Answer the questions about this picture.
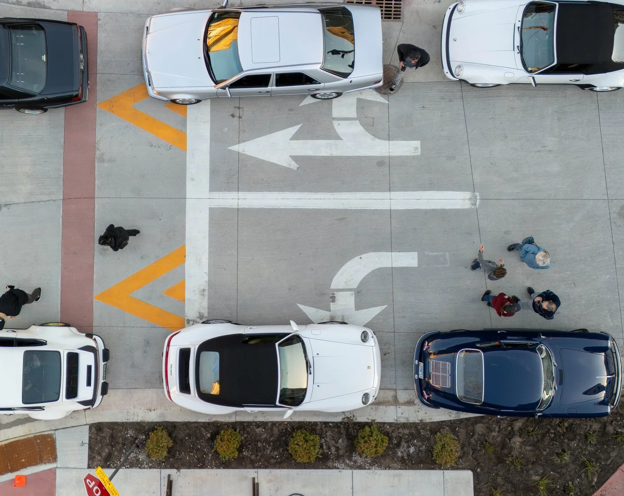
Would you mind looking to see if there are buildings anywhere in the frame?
No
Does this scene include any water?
No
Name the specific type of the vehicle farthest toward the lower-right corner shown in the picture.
car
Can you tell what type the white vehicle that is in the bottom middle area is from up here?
automobile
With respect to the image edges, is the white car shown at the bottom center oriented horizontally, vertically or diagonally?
horizontally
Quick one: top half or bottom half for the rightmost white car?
top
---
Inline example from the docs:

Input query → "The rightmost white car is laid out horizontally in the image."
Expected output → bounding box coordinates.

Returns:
[443,0,624,88]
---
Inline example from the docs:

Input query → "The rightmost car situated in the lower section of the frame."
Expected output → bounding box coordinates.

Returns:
[413,327,622,419]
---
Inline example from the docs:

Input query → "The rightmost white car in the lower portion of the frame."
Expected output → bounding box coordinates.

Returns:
[162,320,377,417]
